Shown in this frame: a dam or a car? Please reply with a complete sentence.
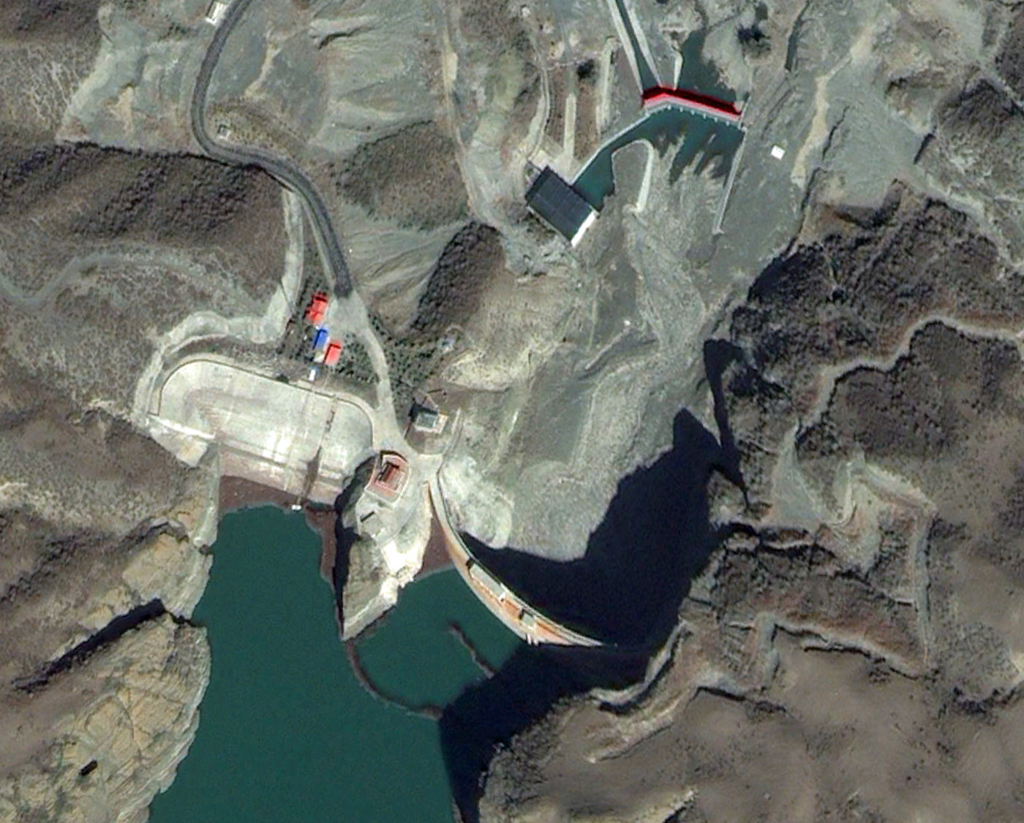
This aerial view contains a dam.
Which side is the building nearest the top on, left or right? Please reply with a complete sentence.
The building nearest the top sits on the left side.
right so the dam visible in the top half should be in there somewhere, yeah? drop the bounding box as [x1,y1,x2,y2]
[643,86,742,126]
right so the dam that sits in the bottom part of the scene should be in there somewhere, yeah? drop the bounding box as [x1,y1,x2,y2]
[428,468,653,659]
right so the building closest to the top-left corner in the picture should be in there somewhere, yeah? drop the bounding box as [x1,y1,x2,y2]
[205,1,228,26]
